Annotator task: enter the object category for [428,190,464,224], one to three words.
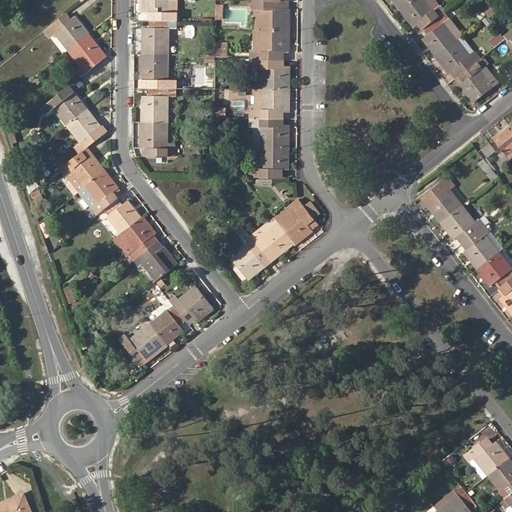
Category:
house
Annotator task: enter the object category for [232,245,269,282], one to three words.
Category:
house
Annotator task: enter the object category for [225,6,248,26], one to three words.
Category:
swimming pool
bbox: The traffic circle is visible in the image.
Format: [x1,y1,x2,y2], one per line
[0,370,127,500]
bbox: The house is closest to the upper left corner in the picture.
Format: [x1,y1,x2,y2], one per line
[43,10,88,53]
